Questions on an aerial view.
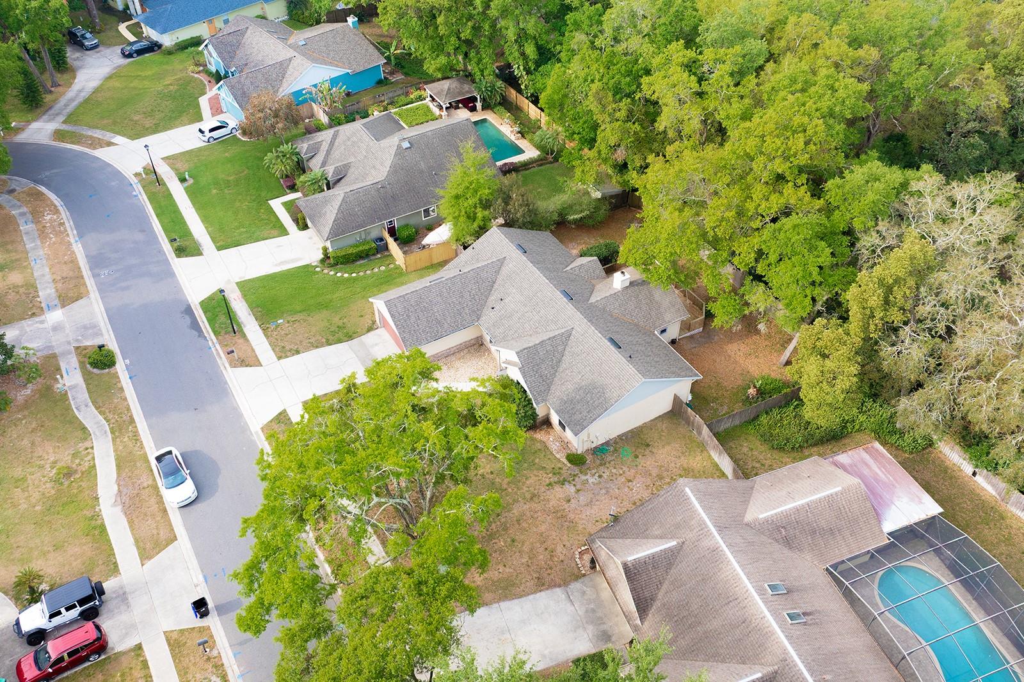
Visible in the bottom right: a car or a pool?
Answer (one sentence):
Visible in the bottom right is a pool.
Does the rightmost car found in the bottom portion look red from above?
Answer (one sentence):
No, the rightmost car found in the bottom portion is actually white.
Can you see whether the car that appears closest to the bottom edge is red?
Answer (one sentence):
Yes, the car that appears closest to the bottom edge appears red.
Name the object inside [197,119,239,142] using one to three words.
car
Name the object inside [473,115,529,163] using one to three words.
swimming pool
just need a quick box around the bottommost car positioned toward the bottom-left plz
[19,622,109,682]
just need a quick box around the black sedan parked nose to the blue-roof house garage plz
[121,38,160,57]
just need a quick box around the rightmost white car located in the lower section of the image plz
[156,450,199,509]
